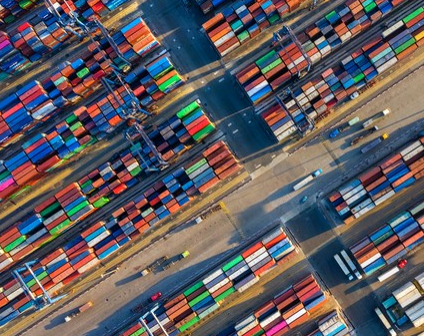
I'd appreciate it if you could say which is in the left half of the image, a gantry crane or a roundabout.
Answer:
gantry crane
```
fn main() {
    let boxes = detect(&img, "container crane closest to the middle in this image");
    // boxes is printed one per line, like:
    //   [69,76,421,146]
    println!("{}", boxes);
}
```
[124,125,175,175]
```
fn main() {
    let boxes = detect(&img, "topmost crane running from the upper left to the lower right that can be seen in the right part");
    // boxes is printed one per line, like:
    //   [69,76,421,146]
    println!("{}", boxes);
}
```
[271,26,314,83]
